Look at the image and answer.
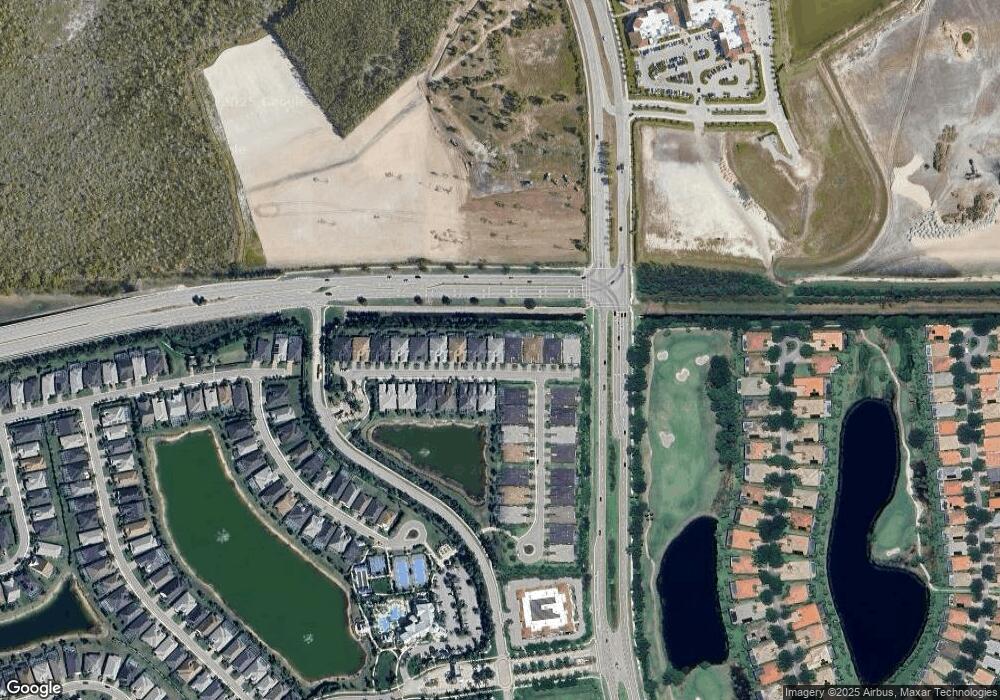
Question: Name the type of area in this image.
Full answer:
This image shows a residential area.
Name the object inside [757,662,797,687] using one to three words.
house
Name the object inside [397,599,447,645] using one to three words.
building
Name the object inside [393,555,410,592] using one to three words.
tennis court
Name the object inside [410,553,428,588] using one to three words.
tennis court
